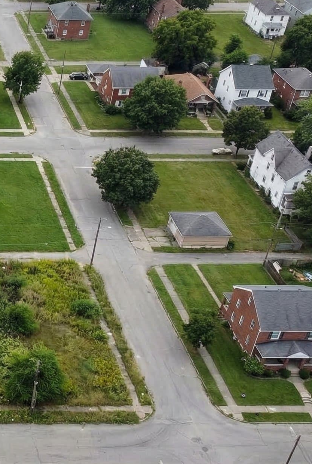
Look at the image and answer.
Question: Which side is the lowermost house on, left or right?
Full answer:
The lowermost house sits on the right side.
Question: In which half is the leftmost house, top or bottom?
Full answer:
You can find the leftmost house in the top half.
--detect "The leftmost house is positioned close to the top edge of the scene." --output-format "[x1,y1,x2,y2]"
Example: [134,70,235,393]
[42,0,94,38]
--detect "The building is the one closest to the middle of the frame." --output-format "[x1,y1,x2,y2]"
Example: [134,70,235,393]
[168,213,233,247]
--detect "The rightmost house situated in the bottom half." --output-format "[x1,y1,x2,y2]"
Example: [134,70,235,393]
[217,279,312,376]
